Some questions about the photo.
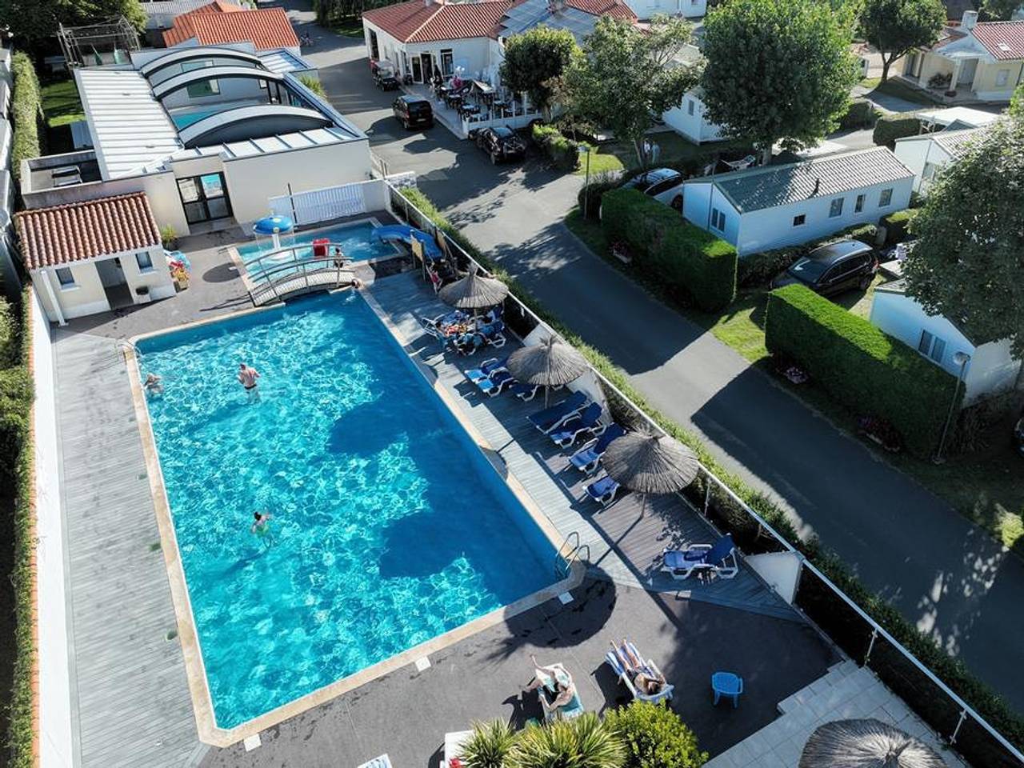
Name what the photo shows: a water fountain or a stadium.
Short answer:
water fountain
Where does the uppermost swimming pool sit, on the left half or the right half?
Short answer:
left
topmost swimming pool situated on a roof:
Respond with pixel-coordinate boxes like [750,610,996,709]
[163,101,245,143]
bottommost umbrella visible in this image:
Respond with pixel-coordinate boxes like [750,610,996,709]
[795,704,954,768]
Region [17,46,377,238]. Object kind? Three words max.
building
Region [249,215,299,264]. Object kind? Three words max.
fountain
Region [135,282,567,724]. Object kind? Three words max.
swimming pool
